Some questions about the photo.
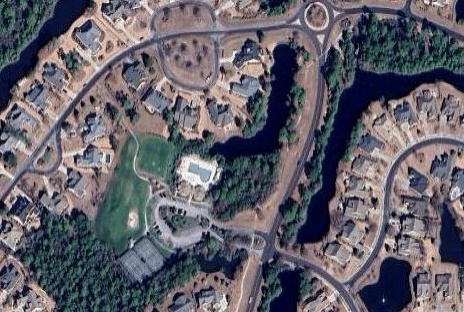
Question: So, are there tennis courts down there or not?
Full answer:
Yes, this view includes a tennis court.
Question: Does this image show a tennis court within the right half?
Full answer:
No, no tennis court appears within the right half.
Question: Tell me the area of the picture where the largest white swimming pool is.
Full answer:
The largest white swimming pool appears toward the center of the photo.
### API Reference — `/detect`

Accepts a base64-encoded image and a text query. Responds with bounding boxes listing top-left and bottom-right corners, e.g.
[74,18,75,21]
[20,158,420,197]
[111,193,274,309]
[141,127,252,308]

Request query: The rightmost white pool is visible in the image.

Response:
[176,154,218,189]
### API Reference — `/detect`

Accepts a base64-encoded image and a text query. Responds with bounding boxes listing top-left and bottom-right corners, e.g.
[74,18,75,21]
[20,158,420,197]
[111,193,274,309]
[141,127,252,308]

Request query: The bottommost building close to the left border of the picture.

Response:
[17,287,46,312]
